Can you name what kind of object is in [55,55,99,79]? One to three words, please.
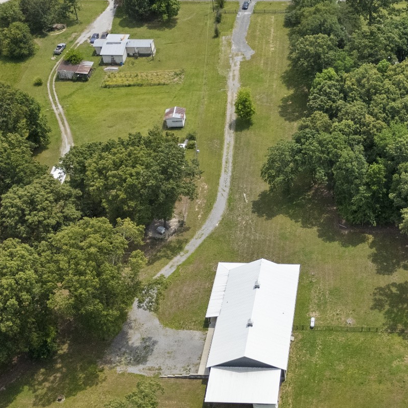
barn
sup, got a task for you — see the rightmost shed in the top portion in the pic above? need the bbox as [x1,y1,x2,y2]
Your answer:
[165,108,189,127]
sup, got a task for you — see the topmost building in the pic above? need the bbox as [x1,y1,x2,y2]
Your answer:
[88,36,157,65]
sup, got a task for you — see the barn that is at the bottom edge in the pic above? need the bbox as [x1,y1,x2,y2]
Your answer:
[204,258,300,408]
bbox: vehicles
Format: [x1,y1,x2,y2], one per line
[242,0,250,8]
[92,29,105,38]
[50,42,71,54]
[101,28,115,37]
